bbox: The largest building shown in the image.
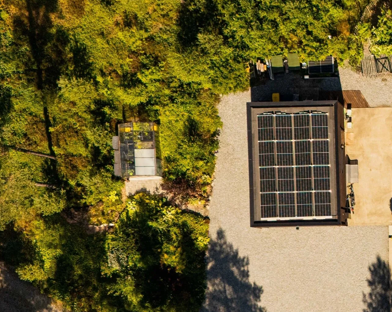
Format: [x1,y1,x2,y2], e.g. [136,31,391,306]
[247,100,349,229]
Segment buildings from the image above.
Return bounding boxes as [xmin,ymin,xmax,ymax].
[117,117,163,174]
[247,100,349,229]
